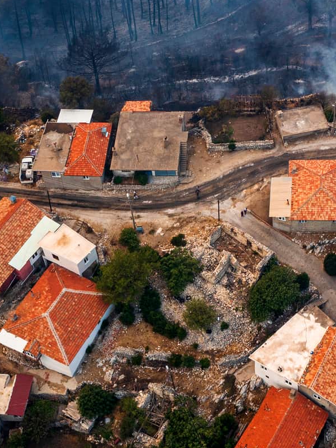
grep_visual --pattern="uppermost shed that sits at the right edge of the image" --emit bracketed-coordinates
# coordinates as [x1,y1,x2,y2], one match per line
[275,105,329,147]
